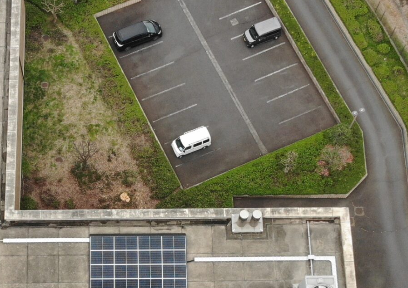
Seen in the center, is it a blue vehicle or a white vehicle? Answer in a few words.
white vehicle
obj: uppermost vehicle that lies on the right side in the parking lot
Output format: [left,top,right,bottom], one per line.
[243,16,283,49]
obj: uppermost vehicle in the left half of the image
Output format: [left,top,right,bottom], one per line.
[113,22,164,54]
